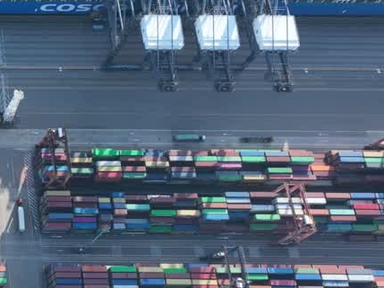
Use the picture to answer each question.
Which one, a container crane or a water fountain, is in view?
container crane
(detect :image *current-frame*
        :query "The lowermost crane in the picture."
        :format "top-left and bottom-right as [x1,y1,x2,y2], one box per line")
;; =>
[204,242,252,288]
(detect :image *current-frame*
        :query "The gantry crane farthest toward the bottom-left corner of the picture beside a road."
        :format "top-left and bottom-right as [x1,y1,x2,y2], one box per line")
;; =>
[31,130,65,191]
